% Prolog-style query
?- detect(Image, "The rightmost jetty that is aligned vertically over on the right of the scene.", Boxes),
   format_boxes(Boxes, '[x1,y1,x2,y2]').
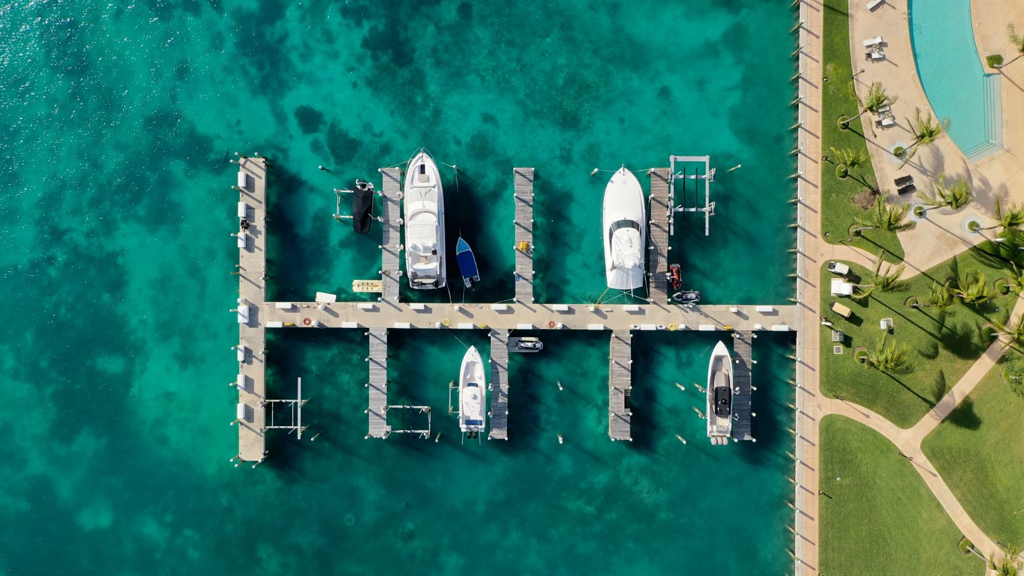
[732,330,751,440]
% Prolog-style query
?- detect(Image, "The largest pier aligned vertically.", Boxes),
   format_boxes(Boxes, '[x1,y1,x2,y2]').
[239,158,268,461]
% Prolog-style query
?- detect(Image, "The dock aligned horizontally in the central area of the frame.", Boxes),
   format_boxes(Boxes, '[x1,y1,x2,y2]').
[265,302,796,331]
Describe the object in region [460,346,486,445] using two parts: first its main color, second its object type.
white boat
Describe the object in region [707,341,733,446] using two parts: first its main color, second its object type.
white boat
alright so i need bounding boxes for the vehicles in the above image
[822,299,851,318]
[820,259,851,276]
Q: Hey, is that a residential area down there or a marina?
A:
marina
